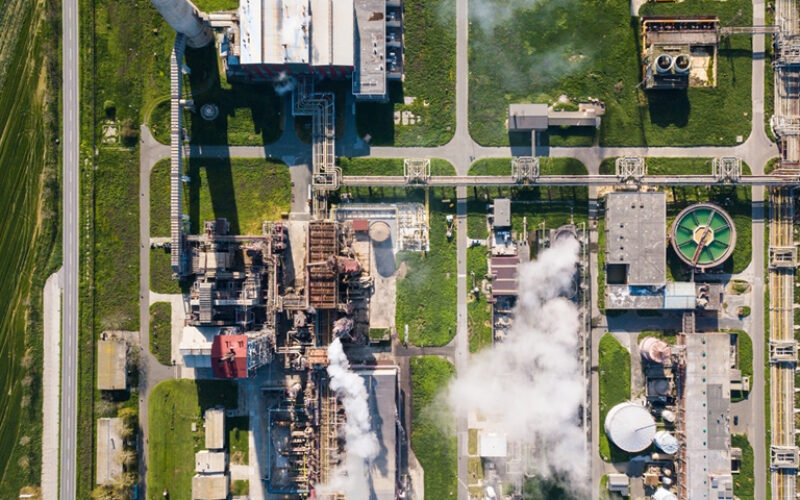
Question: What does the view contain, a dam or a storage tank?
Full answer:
I can see a storage tank in this picture.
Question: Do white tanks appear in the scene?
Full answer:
Yes, this view includes a white tank.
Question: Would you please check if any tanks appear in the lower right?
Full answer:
Yes, a tank is visible in the lower right.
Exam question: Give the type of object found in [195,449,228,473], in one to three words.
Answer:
shed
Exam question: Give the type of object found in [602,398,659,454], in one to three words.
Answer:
storage tank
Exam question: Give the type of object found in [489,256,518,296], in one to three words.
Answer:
building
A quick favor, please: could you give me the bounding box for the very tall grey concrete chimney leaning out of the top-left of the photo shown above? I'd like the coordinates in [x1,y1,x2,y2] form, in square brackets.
[147,0,219,52]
